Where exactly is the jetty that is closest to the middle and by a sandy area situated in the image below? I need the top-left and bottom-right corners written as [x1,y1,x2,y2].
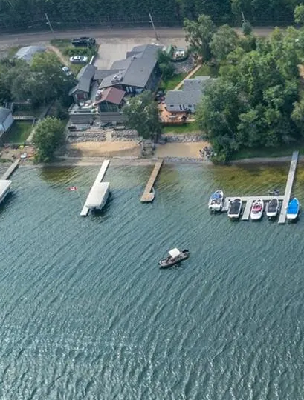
[140,158,167,204]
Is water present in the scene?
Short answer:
Yes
